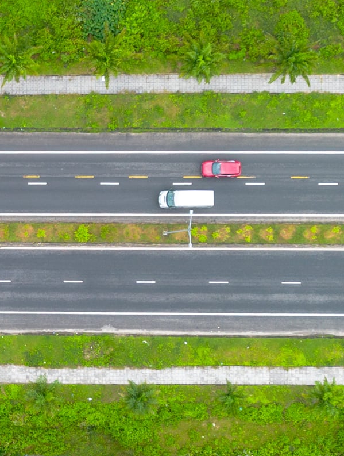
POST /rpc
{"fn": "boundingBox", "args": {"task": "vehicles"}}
[201,160,240,178]
[156,189,216,210]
